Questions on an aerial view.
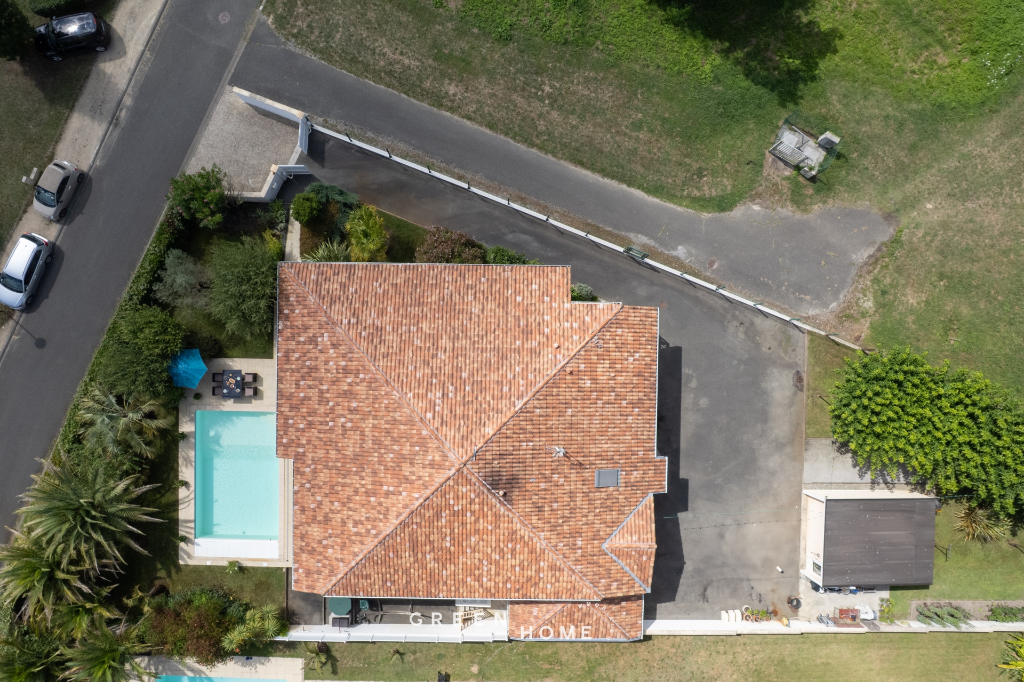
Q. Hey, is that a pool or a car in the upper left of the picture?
car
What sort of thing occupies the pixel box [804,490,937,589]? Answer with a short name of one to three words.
shed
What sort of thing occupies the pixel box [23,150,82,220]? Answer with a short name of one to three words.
car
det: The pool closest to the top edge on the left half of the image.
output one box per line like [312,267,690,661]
[194,411,279,559]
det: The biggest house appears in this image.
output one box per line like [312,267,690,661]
[274,260,669,601]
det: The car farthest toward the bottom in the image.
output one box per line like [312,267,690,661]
[0,232,50,310]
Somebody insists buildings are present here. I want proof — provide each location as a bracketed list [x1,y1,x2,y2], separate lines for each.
[274,260,669,601]
[804,490,937,589]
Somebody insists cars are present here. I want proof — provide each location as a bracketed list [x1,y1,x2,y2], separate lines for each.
[23,150,82,220]
[0,232,50,310]
[31,7,112,58]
